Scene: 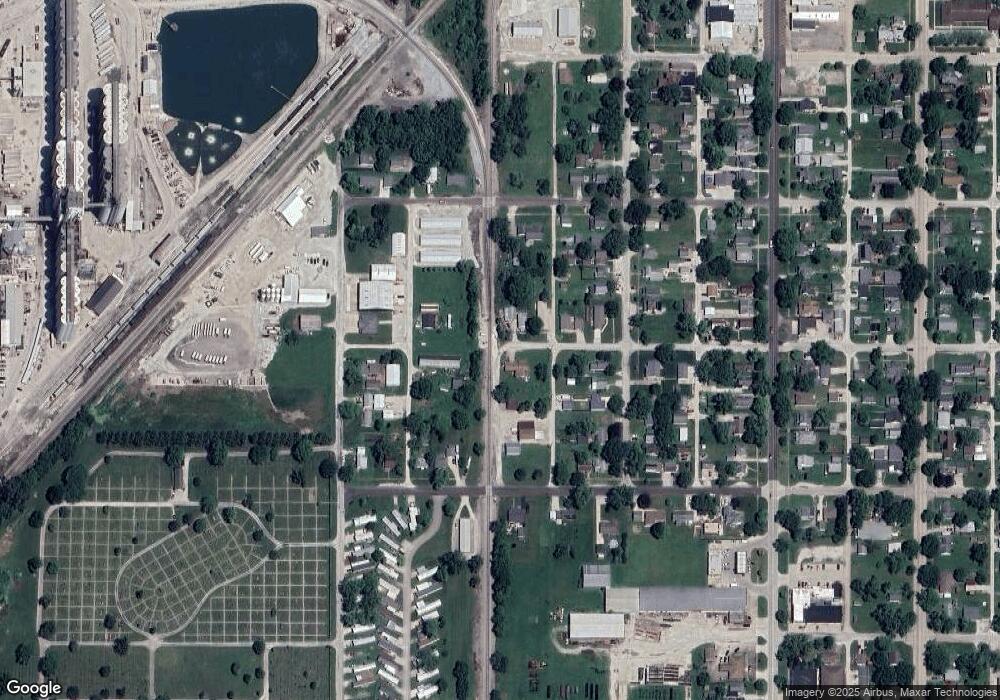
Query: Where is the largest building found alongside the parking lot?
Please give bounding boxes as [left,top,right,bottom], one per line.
[639,587,747,613]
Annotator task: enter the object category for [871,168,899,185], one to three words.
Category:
house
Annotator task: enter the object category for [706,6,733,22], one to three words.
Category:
building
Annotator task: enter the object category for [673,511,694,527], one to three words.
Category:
house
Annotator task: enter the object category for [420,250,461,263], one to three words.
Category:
shed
